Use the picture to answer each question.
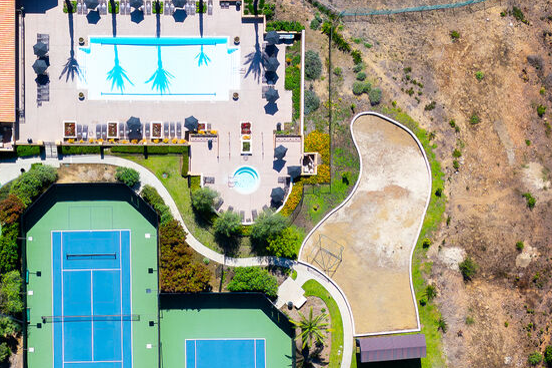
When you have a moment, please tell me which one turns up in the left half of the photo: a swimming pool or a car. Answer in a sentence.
There is a swimming pool in the left half of the photo.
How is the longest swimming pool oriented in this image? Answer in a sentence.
The longest swimming pool has been laid out from side to side relative to the frame.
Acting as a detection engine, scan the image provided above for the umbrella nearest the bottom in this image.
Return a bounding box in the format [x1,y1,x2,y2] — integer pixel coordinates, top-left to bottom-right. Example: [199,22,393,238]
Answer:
[271,188,285,201]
